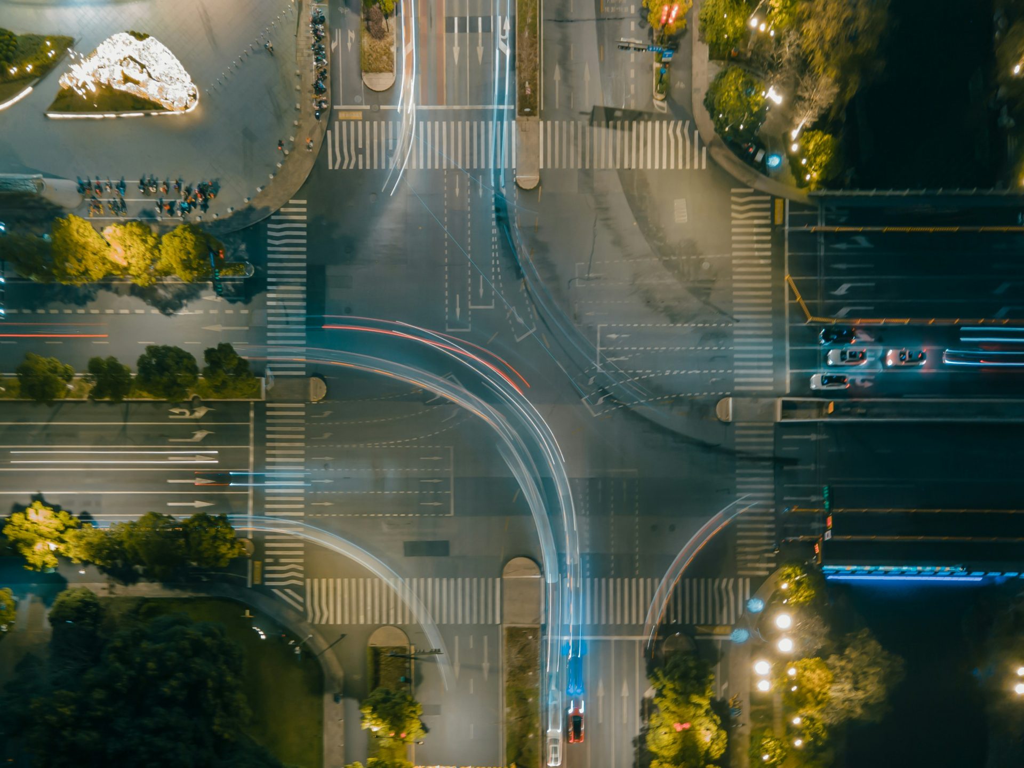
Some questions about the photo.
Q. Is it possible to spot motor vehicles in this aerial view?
Yes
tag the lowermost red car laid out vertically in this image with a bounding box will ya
[567,706,585,744]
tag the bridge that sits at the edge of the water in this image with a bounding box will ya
[819,207,1024,575]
